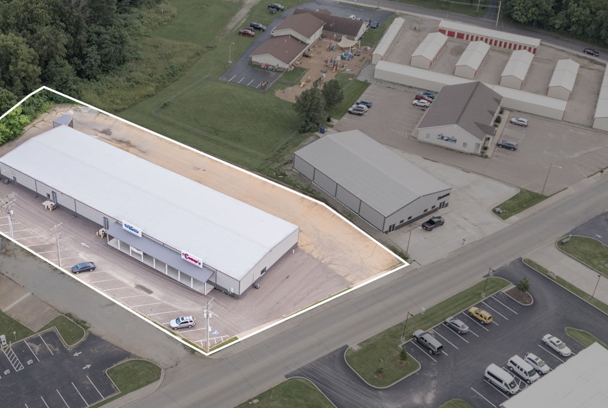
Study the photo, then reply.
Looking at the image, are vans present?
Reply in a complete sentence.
Yes, there is a van in the image.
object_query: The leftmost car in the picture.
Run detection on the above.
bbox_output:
[70,262,97,276]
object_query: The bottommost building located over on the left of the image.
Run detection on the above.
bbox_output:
[0,124,302,299]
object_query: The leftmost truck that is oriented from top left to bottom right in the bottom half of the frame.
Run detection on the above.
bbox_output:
[411,329,446,356]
